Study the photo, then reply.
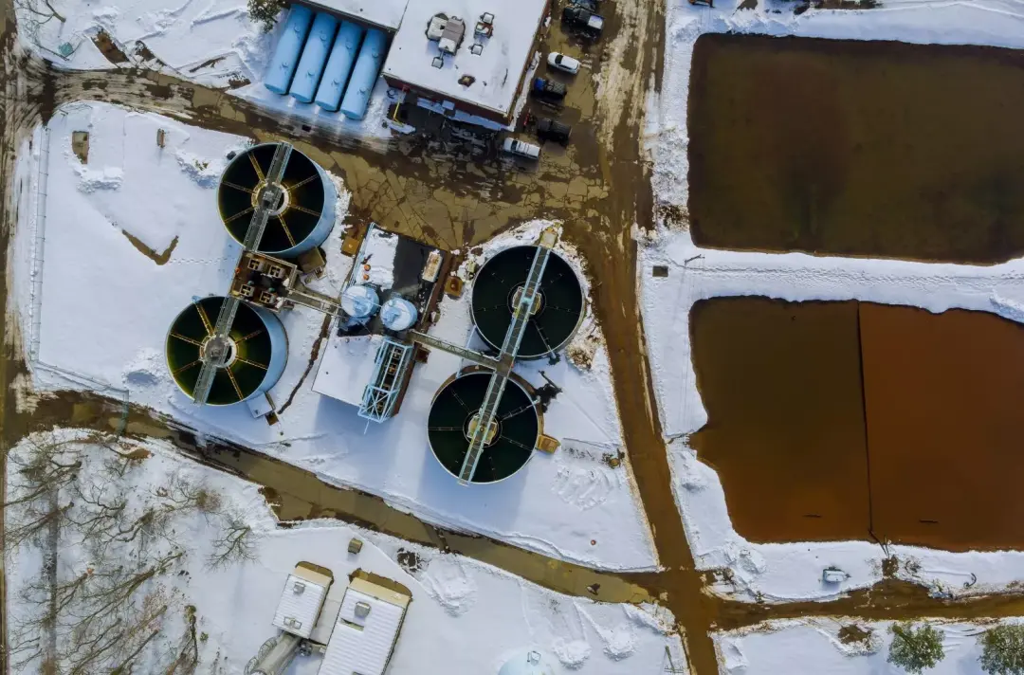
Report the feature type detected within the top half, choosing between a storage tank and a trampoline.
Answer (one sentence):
It is a storage tank that can be seen within the top half.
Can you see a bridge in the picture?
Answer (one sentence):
Yes, there is a bridge in the image.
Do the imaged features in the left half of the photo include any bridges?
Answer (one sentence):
Yes, a bridge is visible in the left half of the photo.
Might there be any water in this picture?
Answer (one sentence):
Yes, there's water in this view.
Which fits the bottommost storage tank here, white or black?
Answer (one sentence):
The bottommost storage tank is black.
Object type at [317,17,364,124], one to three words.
storage tank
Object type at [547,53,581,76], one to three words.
car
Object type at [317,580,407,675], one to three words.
house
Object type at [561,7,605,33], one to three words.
truck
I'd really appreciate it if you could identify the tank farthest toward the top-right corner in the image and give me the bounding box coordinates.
[472,224,583,357]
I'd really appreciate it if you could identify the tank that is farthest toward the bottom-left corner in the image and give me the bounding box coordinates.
[165,295,287,406]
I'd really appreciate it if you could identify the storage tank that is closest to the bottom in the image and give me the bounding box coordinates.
[428,365,546,483]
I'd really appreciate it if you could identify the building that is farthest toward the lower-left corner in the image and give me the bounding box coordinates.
[273,566,333,638]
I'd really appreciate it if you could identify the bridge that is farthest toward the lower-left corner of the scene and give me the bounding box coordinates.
[191,295,238,406]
